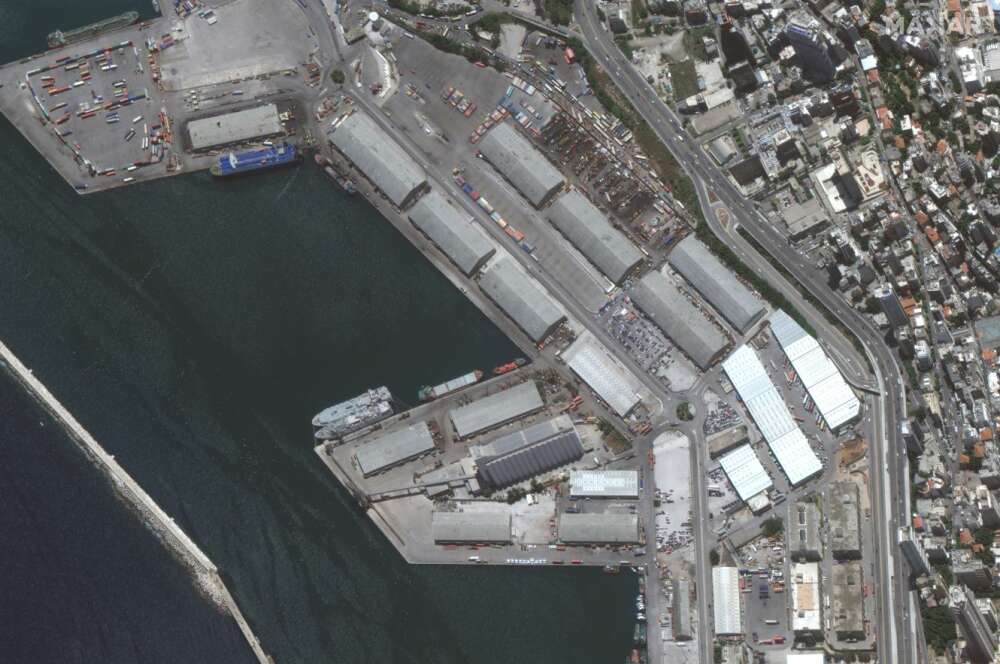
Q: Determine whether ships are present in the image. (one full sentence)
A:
Yes, there is a ship in the image.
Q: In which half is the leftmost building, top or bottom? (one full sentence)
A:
You can find the leftmost building in the top half.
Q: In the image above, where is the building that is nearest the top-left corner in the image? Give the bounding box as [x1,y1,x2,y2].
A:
[188,103,283,152]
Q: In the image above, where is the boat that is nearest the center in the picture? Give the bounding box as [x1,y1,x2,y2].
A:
[493,359,528,376]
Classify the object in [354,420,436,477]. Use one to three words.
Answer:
building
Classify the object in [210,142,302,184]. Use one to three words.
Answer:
ship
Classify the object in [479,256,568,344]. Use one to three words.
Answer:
building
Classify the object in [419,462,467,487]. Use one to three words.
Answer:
shed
